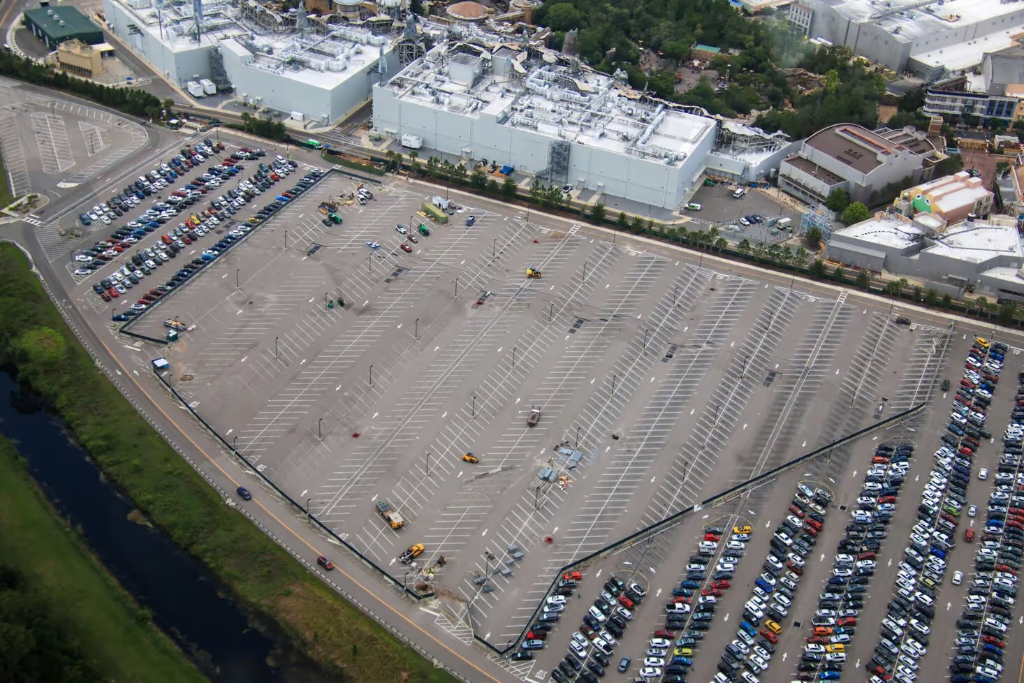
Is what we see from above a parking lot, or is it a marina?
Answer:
parking lot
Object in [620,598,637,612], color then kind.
red car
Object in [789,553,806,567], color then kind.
white car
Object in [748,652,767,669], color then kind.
white car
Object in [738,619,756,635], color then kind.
blue car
